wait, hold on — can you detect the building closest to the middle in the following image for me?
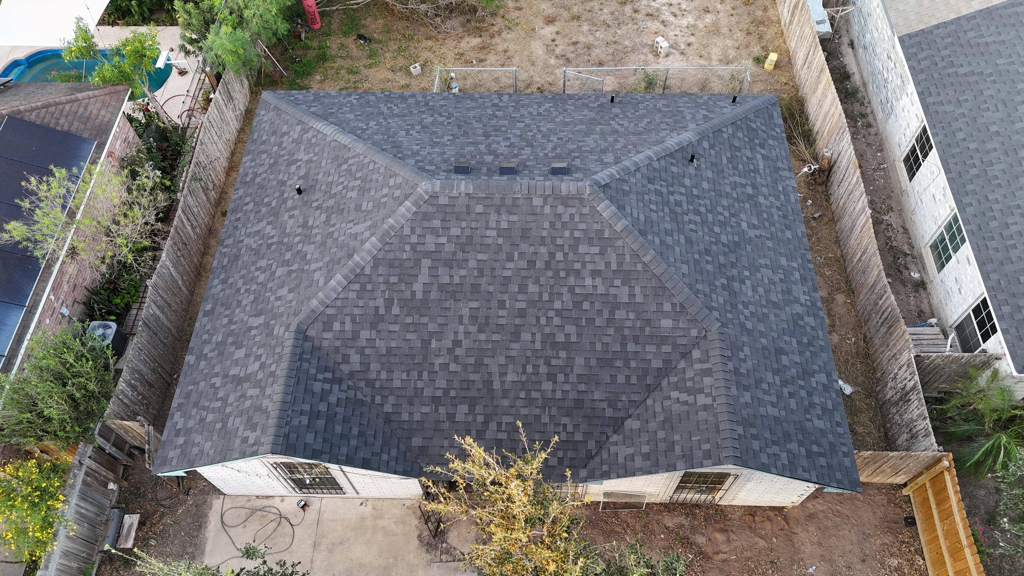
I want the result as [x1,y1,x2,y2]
[154,89,864,508]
